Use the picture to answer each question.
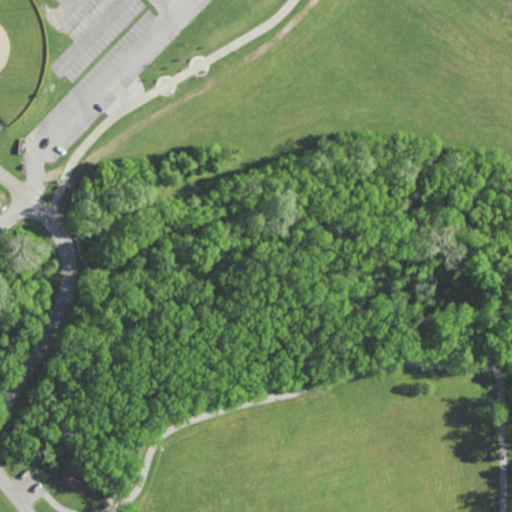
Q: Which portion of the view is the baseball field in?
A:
top left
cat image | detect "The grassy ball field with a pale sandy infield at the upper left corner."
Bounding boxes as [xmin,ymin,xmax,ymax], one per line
[0,0,45,125]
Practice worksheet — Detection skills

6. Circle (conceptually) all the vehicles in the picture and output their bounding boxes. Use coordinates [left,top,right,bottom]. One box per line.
[34,483,43,492]
[93,104,102,112]
[40,138,49,148]
[57,146,68,156]
[22,470,31,480]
